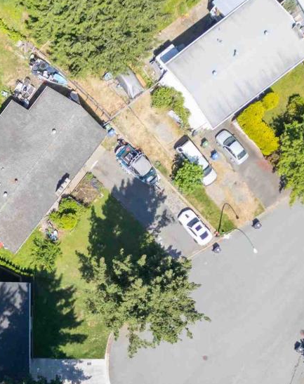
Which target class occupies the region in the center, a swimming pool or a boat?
boat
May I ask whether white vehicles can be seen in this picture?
Yes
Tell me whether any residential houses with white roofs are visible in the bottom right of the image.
No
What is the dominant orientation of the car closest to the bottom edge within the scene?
at an angle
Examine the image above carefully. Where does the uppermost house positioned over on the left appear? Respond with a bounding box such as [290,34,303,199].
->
[0,86,106,255]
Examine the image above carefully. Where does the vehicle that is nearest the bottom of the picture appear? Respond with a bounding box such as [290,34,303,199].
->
[173,204,214,250]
